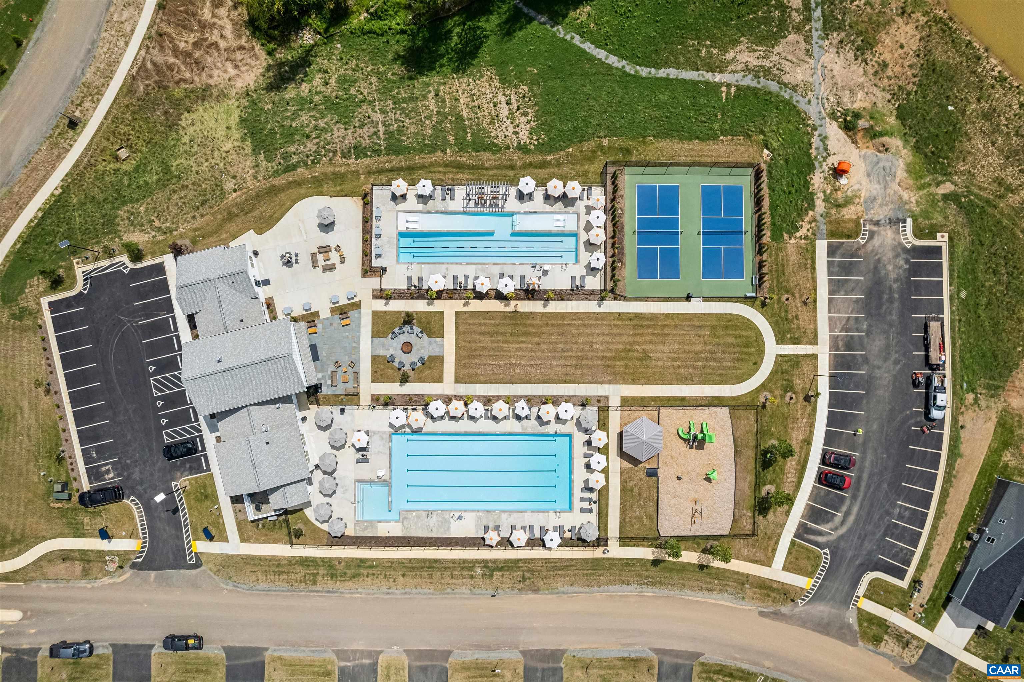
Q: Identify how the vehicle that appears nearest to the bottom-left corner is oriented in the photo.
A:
horizontally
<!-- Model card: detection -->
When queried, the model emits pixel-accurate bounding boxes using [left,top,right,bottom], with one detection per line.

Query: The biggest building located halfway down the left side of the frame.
[176,244,321,509]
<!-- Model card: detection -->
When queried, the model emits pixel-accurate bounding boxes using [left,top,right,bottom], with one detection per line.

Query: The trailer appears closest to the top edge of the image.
[923,320,945,371]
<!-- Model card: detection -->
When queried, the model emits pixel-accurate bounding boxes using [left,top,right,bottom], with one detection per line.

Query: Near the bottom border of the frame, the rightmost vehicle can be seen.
[163,633,204,652]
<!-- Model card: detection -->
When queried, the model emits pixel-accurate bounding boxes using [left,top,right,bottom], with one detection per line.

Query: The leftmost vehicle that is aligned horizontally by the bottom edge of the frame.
[50,640,96,660]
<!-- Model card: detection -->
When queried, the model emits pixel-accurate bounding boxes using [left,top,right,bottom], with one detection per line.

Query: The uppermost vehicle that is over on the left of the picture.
[164,440,200,461]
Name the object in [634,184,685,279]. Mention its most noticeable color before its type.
blue sports court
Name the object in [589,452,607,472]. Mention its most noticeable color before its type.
white umbrella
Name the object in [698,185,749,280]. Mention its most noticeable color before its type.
blue sports court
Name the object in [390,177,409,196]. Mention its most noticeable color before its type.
white umbrella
